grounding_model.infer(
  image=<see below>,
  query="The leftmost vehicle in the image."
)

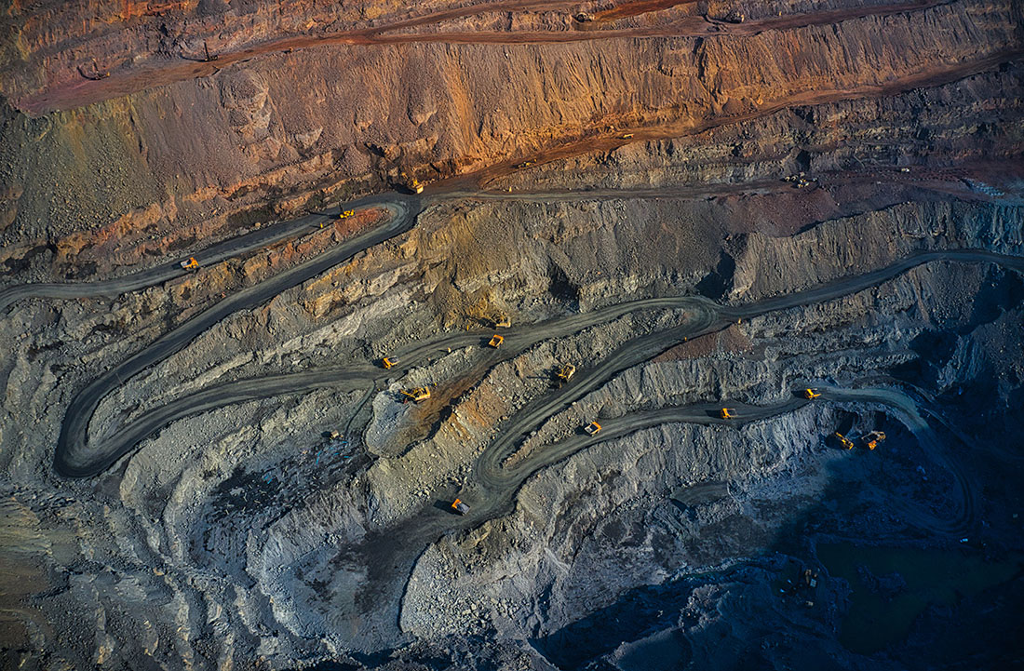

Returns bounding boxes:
[179,254,197,270]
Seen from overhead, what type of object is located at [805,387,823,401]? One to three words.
vehicle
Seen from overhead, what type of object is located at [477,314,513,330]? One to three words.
work vehicle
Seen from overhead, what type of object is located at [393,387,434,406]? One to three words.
work vehicle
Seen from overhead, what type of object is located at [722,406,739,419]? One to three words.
vehicle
